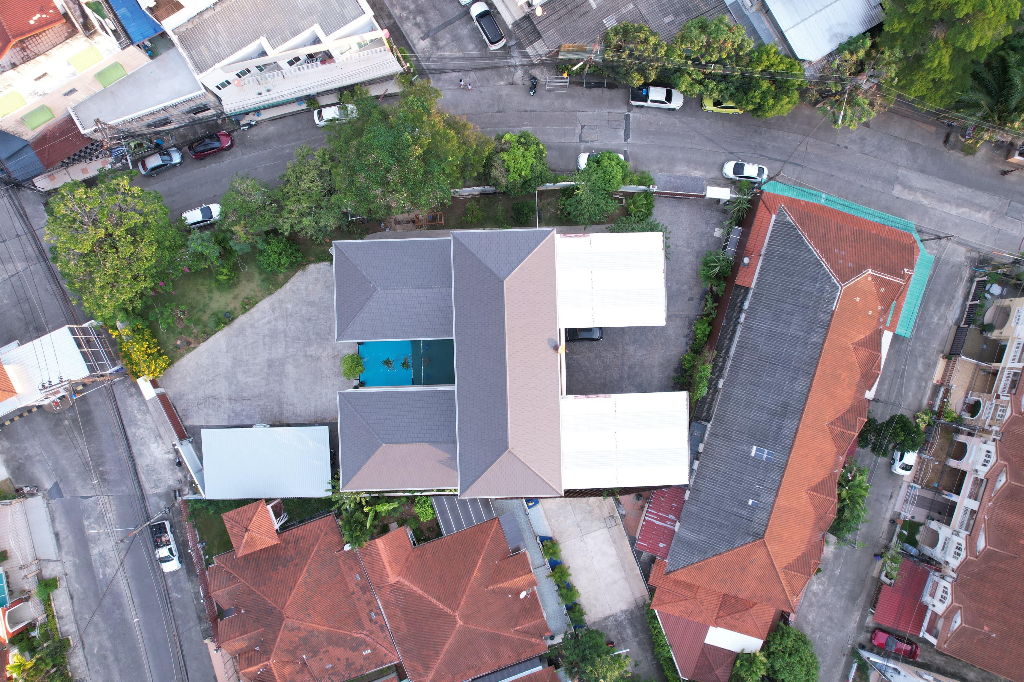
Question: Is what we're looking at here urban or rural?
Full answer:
The area is urban.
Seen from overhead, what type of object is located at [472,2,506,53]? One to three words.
car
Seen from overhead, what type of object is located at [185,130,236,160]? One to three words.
car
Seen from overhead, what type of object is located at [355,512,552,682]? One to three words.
house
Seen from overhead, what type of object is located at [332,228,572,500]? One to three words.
house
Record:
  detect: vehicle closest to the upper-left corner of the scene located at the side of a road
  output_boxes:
[135,146,186,176]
